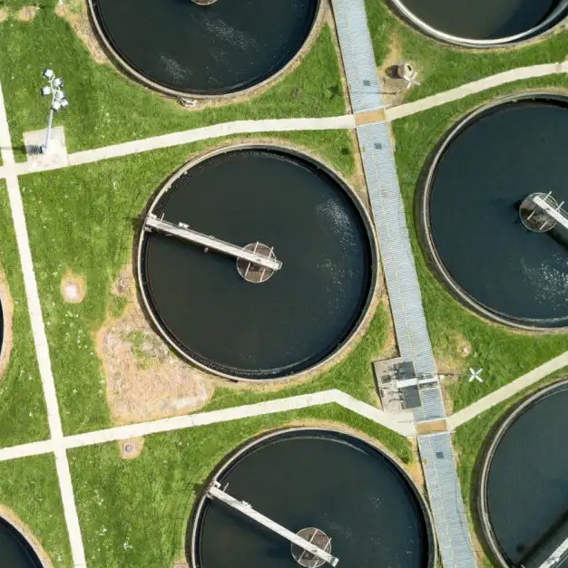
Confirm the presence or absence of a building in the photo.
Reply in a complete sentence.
No, the scene contains no building.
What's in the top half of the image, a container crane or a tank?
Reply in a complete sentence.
There is a tank in the top half of the image.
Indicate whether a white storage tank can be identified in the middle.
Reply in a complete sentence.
No, in the middle there is no white storage tank.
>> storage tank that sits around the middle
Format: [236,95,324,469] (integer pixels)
[138,140,381,383]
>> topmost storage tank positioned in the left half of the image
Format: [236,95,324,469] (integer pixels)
[88,0,325,100]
